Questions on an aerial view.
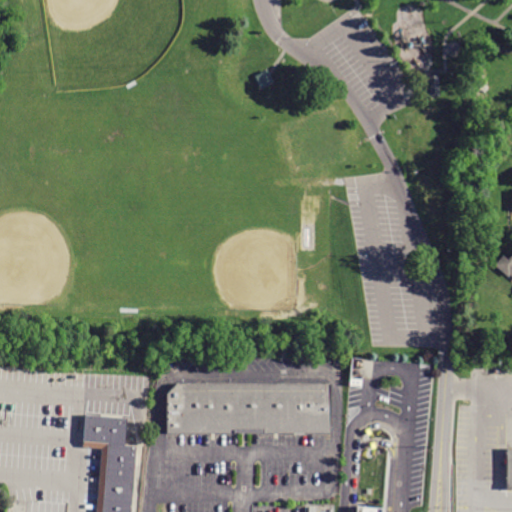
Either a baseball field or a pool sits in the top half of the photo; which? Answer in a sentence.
Looking in the top half of the photo, you will find a baseball field.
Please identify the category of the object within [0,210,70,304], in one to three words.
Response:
baseball field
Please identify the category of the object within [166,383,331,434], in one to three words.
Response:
building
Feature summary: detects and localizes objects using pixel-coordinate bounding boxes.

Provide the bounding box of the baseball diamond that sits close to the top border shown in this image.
[46,0,118,32]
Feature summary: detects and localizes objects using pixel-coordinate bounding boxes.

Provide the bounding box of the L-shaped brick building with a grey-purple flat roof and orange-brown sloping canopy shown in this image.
[83,416,136,512]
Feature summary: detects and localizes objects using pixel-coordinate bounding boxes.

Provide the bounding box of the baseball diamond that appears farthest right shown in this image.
[213,228,297,310]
